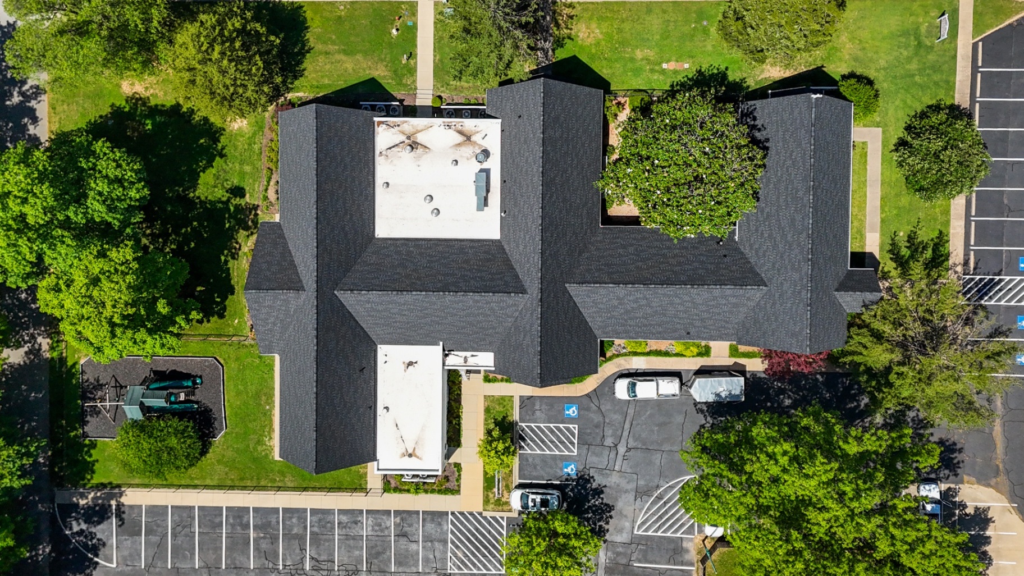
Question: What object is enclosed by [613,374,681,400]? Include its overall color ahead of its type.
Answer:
white truck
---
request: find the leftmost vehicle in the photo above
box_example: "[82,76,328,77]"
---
[511,485,562,513]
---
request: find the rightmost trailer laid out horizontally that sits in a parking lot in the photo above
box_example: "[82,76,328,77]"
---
[680,372,744,403]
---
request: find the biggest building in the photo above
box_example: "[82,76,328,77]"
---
[244,73,883,474]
